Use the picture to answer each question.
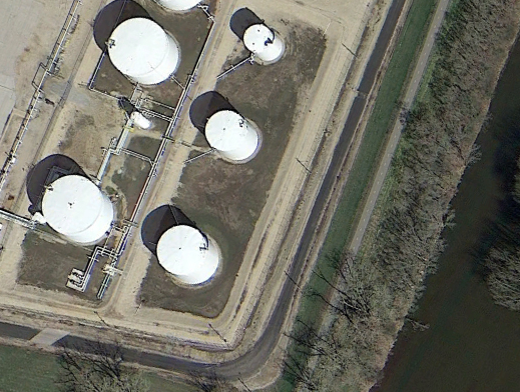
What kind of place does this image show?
industrial area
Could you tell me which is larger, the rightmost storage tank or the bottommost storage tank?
the bottommost storage tank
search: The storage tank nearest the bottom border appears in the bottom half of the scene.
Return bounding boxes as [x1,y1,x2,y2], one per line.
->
[157,224,221,287]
